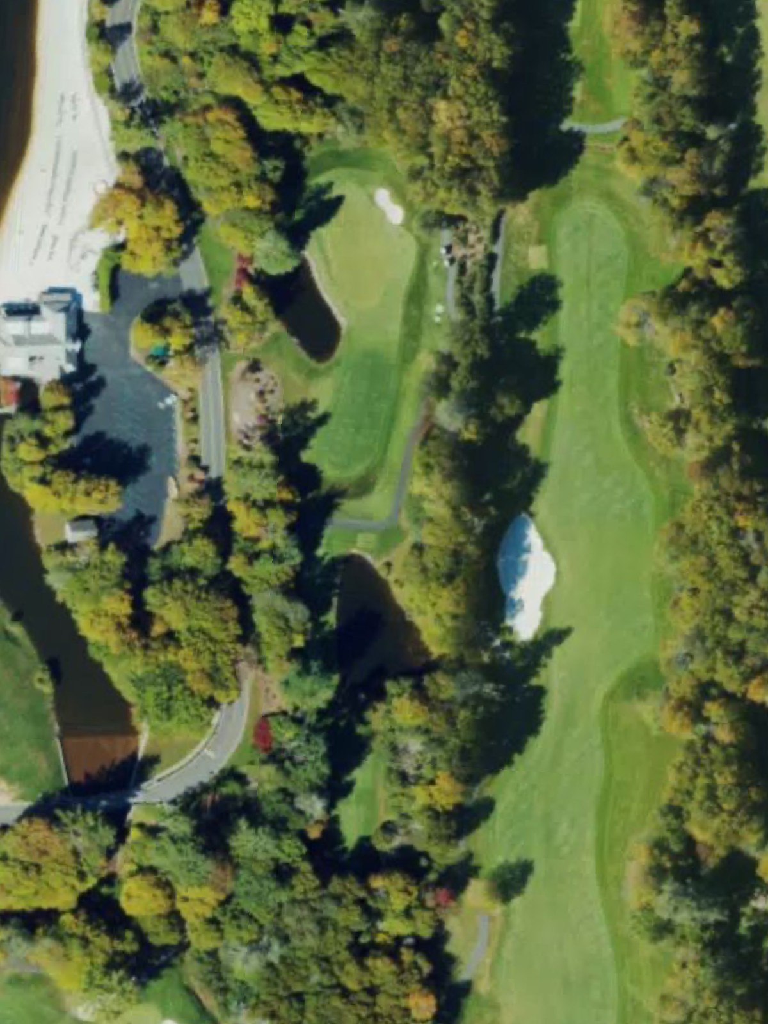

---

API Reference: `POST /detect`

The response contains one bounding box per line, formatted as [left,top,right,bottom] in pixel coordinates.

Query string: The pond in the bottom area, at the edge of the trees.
[337,555,435,697]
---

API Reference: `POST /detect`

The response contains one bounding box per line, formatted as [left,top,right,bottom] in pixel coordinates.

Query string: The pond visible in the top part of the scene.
[268,255,342,360]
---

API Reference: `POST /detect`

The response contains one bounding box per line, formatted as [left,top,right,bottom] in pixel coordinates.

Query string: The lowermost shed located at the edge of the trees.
[65,519,97,543]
